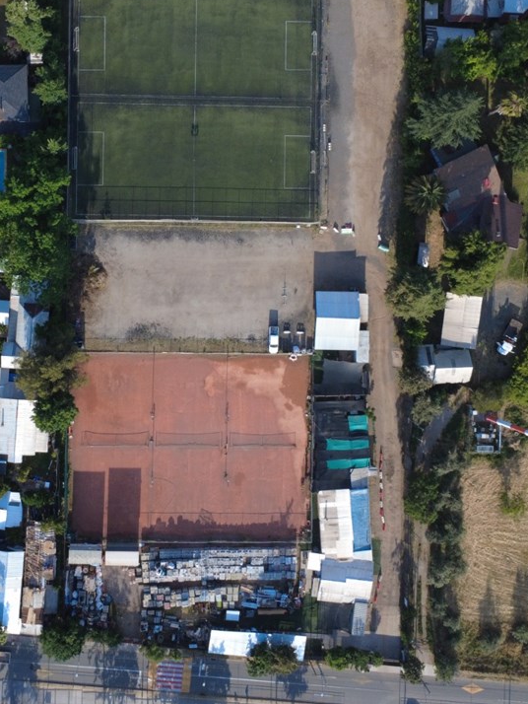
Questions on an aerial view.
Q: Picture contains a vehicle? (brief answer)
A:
Yes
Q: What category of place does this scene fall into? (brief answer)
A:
sports ground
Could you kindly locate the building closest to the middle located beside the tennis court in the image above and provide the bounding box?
[313,290,370,363]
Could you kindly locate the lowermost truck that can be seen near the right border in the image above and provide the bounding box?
[496,318,521,354]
